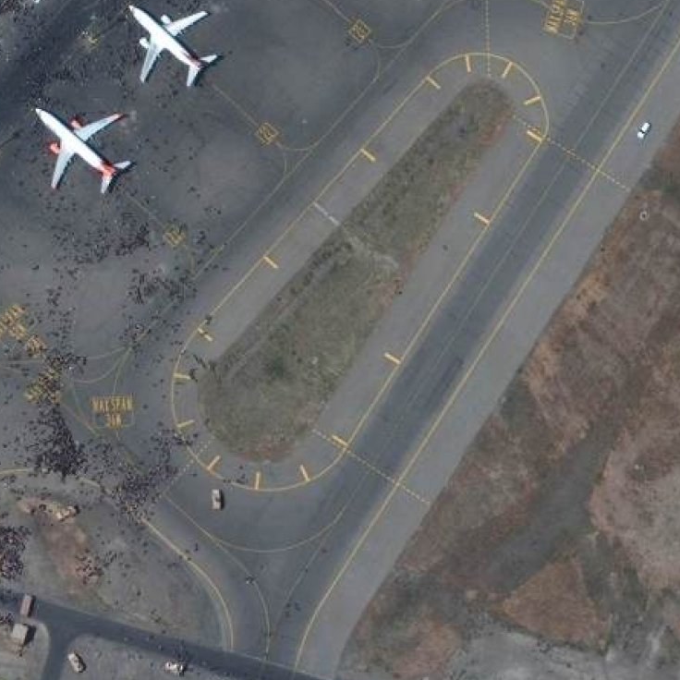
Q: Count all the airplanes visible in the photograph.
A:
2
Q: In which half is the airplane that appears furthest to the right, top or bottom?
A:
top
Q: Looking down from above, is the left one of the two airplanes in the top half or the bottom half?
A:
top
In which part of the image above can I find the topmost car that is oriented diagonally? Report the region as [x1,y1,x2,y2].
[637,121,650,138]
